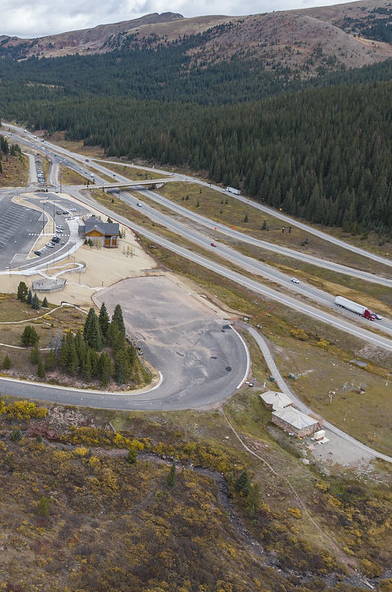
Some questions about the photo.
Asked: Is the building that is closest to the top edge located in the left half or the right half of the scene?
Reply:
left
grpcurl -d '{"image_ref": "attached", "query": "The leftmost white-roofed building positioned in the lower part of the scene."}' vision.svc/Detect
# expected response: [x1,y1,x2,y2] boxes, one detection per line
[260,390,293,412]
